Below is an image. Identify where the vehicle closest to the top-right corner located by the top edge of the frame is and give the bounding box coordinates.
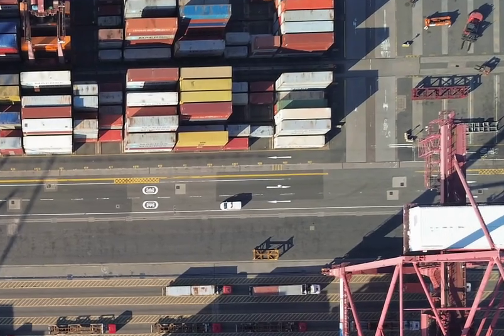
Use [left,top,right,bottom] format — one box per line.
[460,2,491,49]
